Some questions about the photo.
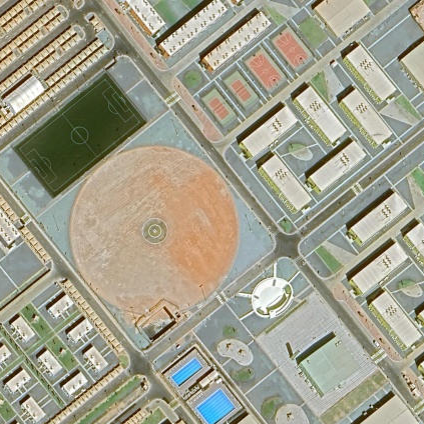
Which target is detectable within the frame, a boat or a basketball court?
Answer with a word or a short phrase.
basketball court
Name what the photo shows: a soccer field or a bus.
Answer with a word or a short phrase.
soccer field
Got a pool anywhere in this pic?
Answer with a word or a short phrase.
Yes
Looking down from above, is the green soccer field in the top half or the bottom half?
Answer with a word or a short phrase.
top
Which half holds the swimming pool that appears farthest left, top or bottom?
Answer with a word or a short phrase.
bottom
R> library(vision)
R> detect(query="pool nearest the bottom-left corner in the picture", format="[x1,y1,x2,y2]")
[165,351,208,393]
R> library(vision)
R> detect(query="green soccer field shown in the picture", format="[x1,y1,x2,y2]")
[13,72,147,197]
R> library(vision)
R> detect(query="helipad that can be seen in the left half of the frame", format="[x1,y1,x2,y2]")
[143,218,168,244]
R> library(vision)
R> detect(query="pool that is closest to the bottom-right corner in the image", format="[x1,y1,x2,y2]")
[189,382,240,424]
